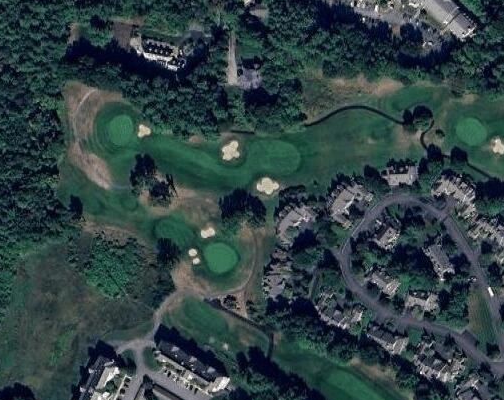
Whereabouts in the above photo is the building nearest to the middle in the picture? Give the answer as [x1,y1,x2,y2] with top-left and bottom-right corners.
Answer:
[271,203,316,249]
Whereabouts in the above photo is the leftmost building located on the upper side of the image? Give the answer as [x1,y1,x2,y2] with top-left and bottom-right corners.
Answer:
[141,39,189,74]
